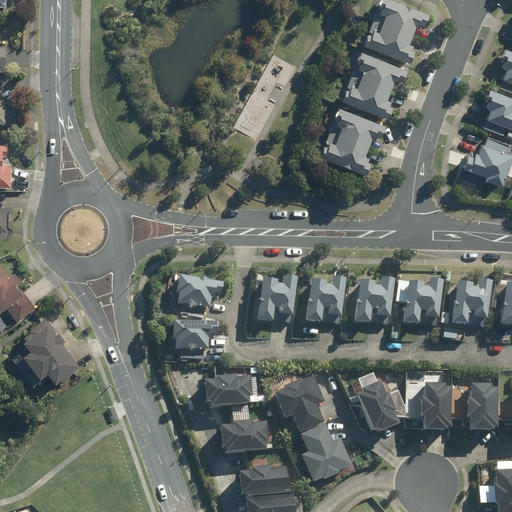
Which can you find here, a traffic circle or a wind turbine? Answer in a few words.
traffic circle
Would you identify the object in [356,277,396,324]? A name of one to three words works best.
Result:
house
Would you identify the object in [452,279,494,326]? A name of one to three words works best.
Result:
house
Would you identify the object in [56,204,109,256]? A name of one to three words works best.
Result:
roundabout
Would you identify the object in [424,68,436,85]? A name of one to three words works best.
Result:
vehicle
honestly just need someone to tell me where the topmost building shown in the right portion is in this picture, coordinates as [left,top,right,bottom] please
[365,0,431,64]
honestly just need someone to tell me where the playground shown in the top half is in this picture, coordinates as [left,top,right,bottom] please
[234,54,298,142]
